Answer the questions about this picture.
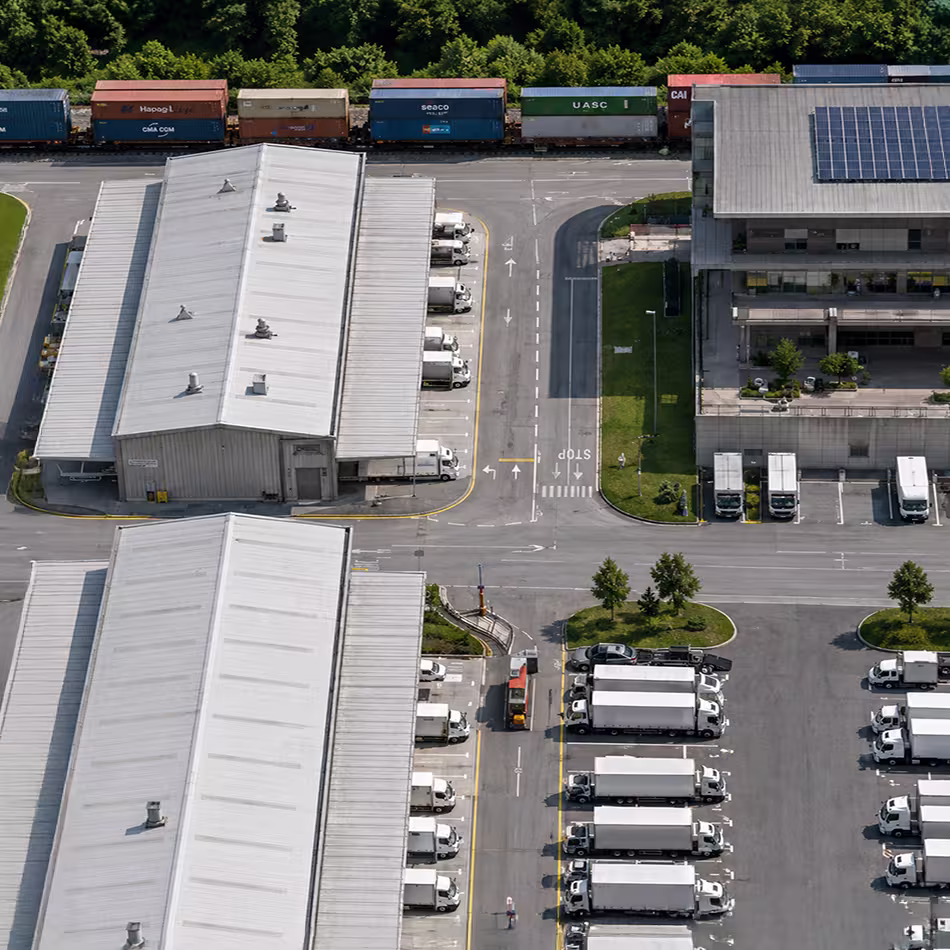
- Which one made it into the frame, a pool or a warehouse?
warehouse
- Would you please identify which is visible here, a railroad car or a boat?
railroad car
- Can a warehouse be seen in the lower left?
Yes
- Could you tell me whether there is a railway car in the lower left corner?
No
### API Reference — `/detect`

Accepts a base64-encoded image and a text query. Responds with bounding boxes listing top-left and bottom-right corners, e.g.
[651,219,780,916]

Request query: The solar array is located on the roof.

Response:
[801,107,950,186]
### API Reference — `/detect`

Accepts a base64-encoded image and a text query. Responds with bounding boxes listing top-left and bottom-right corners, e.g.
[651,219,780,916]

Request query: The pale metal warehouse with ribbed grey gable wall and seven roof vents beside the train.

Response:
[32,142,442,502]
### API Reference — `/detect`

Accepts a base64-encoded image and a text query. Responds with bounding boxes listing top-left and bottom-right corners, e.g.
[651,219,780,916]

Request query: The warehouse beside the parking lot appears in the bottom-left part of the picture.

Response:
[0,514,430,950]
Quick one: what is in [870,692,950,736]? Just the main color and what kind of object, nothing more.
white truck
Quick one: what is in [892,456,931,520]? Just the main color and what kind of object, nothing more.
white truck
